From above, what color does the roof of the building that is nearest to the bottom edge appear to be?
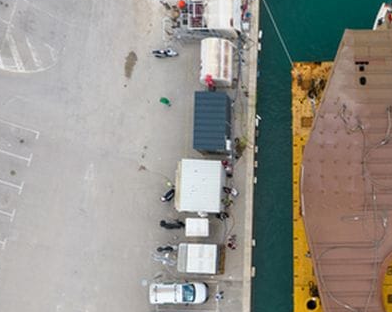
white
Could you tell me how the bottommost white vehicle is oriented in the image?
horizontally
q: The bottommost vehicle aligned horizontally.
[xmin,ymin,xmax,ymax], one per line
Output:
[150,280,206,306]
